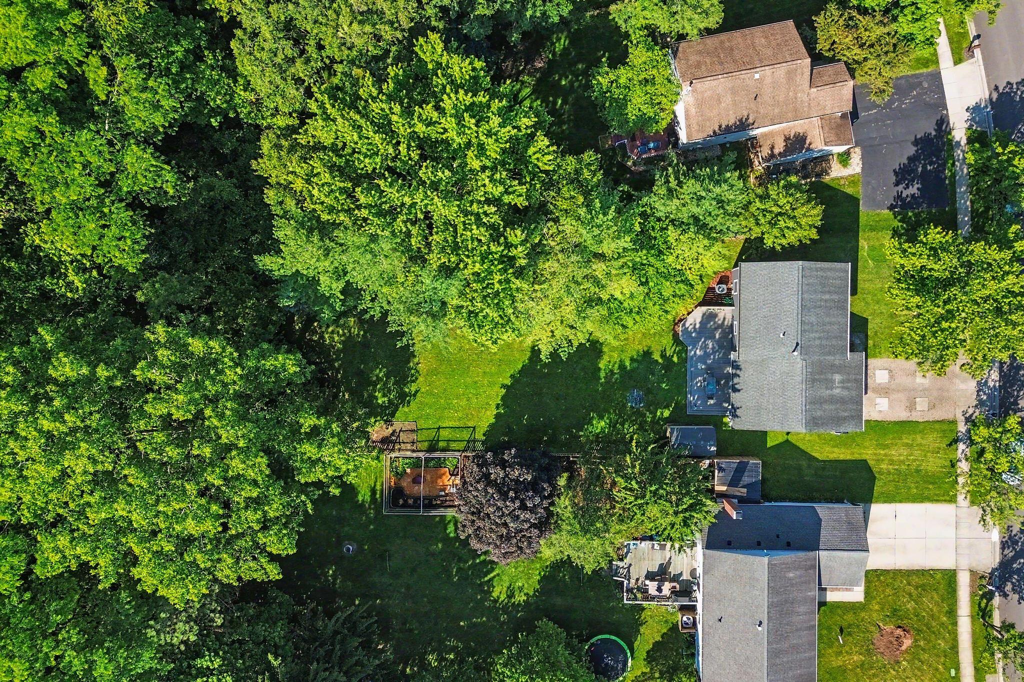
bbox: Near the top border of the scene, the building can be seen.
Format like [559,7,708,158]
[665,19,855,169]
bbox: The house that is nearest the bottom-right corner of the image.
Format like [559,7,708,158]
[696,499,869,682]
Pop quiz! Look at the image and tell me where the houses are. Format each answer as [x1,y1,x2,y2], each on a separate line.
[696,499,869,682]
[665,19,855,169]
[728,261,865,433]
